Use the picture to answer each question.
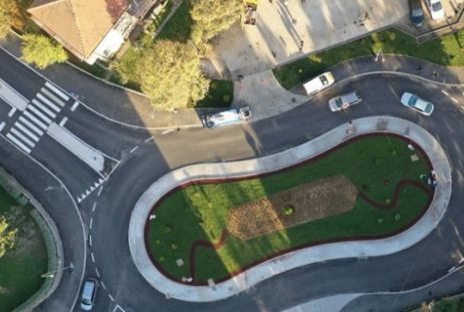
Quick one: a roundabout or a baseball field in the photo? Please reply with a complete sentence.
Looking from above, you can make out a roundabout.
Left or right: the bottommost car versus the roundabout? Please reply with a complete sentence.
Looking at the photo, the bottommost car lies to the left of the roundabout.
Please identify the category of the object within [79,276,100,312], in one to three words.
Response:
car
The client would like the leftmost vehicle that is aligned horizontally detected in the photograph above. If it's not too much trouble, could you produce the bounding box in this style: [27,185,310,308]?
[201,102,254,131]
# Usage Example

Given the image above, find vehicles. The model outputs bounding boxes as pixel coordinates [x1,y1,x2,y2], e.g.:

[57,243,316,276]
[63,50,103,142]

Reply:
[243,0,262,26]
[425,0,444,23]
[407,0,425,28]
[300,69,337,95]
[201,102,254,131]
[79,276,100,312]
[399,92,435,117]
[327,91,362,113]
